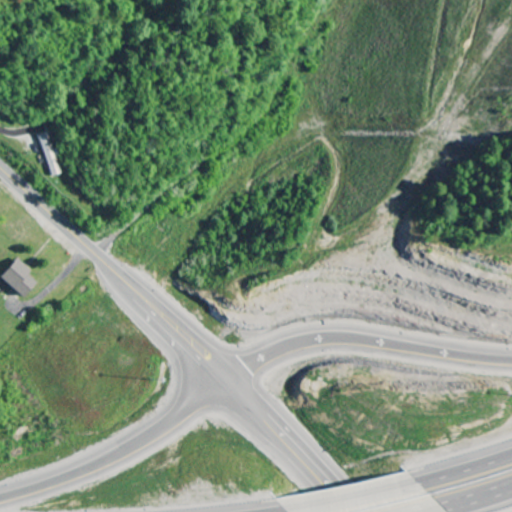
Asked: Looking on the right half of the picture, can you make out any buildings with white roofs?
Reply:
No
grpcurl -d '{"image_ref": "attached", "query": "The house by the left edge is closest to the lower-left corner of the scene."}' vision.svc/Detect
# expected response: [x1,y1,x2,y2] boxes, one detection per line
[2,259,38,298]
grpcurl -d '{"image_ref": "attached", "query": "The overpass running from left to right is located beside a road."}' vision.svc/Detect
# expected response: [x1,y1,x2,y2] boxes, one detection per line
[270,466,442,512]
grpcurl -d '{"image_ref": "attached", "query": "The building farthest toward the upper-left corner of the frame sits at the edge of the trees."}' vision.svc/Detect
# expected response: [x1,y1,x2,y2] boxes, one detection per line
[36,134,62,176]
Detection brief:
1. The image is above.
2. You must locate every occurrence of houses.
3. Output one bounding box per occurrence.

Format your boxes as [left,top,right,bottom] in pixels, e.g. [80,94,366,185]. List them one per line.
[36,134,62,176]
[2,259,38,298]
